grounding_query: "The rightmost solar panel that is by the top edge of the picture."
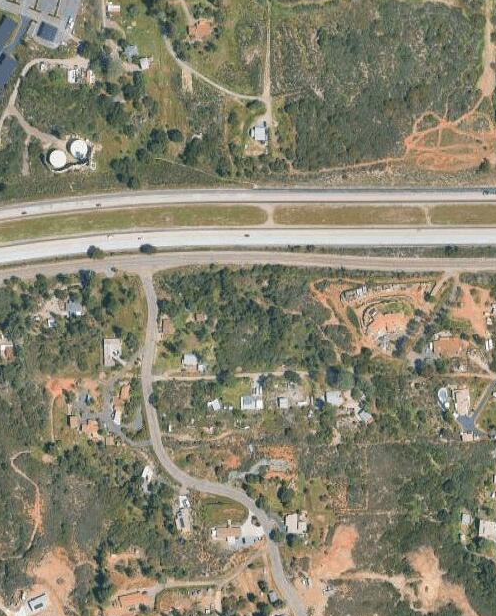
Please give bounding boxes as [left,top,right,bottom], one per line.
[37,21,58,41]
